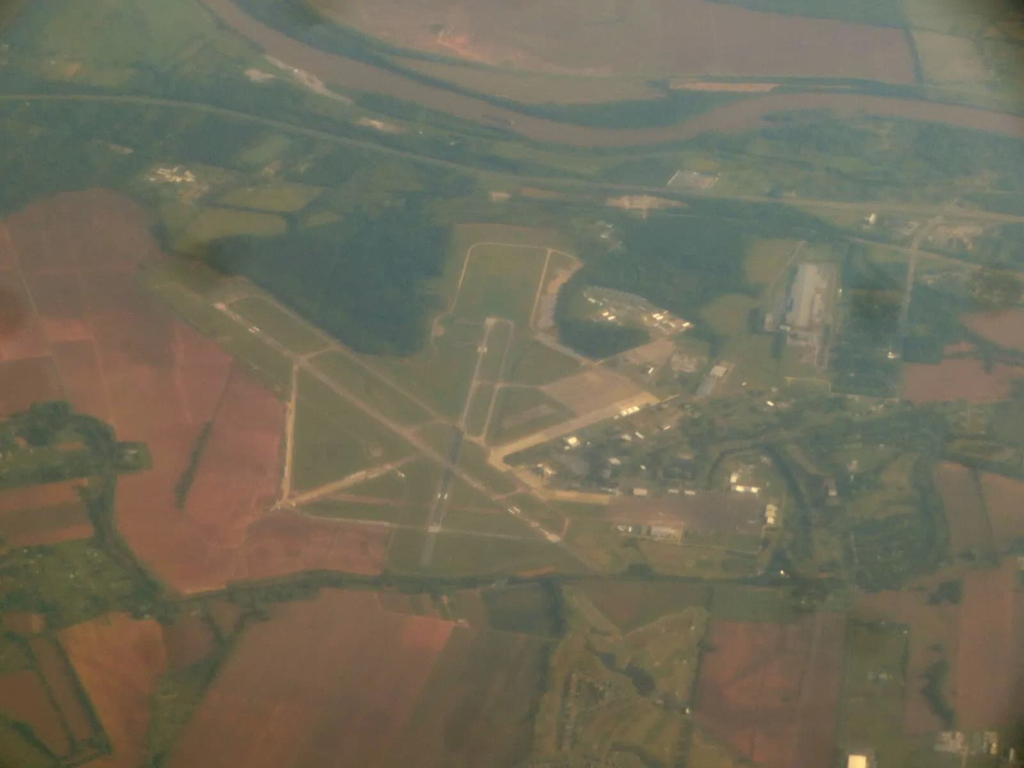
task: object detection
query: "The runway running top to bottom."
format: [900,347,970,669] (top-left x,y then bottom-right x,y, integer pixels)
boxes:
[429,319,494,531]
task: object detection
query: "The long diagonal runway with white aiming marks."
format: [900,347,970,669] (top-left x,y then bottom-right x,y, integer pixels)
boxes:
[220,305,563,540]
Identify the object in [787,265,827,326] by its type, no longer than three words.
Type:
building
